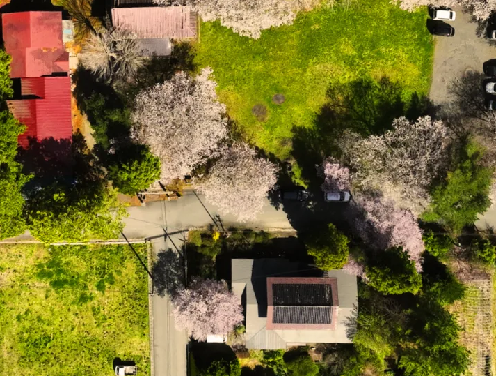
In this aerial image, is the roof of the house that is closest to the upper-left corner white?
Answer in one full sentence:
No, the color of the roof of the house that is closest to the upper-left corner is red.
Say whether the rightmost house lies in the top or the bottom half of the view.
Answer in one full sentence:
It is in the bottom half that the rightmost house appears.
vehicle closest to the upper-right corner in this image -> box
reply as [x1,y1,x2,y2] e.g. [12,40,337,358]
[481,25,496,38]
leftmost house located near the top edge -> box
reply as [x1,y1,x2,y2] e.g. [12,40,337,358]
[2,12,77,77]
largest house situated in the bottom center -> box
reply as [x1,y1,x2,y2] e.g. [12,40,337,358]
[231,257,358,350]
